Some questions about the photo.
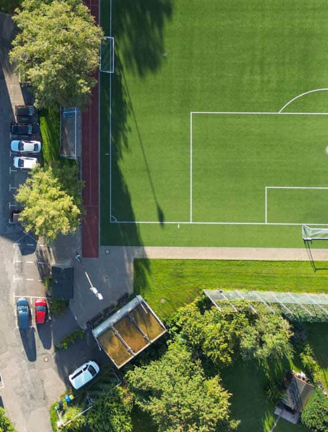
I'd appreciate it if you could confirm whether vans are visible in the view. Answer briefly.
Yes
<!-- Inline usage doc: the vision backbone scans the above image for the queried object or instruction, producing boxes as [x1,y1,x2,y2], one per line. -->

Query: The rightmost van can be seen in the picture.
[69,360,99,390]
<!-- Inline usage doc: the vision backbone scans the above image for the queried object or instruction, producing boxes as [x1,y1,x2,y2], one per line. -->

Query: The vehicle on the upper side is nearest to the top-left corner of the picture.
[12,105,41,119]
